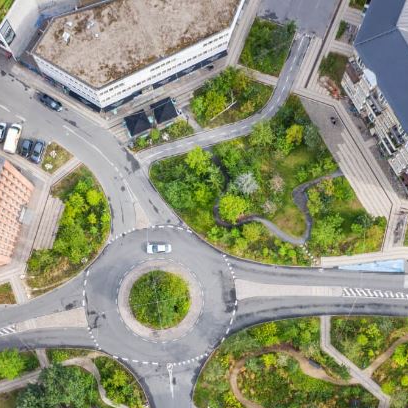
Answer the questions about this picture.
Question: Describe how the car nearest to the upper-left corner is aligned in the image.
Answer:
diagonally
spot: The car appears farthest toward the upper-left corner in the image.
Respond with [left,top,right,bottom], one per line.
[38,92,64,113]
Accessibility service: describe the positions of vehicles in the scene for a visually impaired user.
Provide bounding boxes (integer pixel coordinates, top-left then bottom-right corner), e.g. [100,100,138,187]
[0,121,9,143]
[30,139,46,164]
[38,92,64,113]
[20,137,35,160]
[2,124,23,154]
[147,242,171,253]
